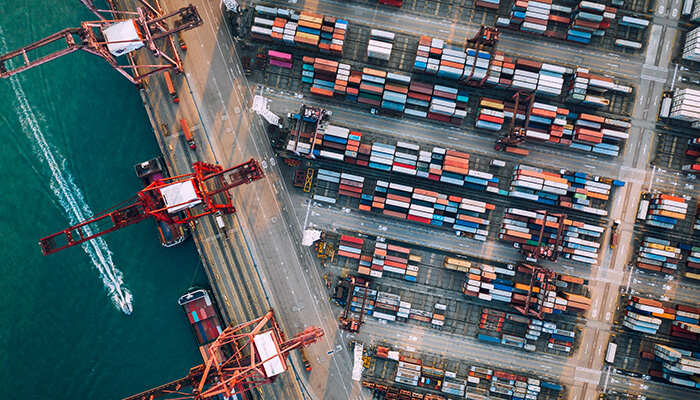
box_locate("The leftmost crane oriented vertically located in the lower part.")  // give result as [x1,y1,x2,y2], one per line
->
[340,274,371,331]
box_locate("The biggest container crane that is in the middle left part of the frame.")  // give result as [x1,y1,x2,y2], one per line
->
[36,155,265,259]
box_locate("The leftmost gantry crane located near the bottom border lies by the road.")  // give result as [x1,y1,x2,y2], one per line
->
[109,306,327,400]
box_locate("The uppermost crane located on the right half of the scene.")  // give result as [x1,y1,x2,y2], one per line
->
[461,28,500,87]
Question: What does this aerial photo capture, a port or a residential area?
port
